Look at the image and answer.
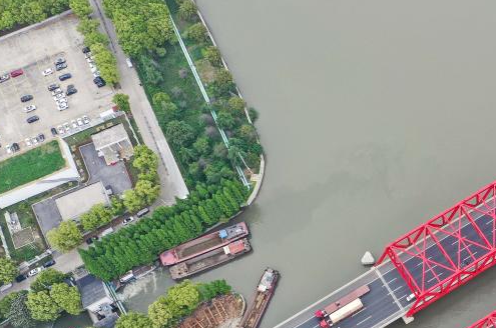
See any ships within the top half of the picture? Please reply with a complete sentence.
No, looking within the top half of the picture, there is no ship.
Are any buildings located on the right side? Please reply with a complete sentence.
No, looking on the right side, there is no building.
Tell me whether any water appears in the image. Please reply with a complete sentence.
Yes, water shows up in the scene.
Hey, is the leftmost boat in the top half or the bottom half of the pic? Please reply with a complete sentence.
Seen from above, the leftmost boat lies in the bottom half of the view.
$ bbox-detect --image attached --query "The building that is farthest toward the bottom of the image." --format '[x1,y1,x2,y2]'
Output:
[77,275,121,322]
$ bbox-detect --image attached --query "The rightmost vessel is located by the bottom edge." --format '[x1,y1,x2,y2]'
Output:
[240,267,279,328]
